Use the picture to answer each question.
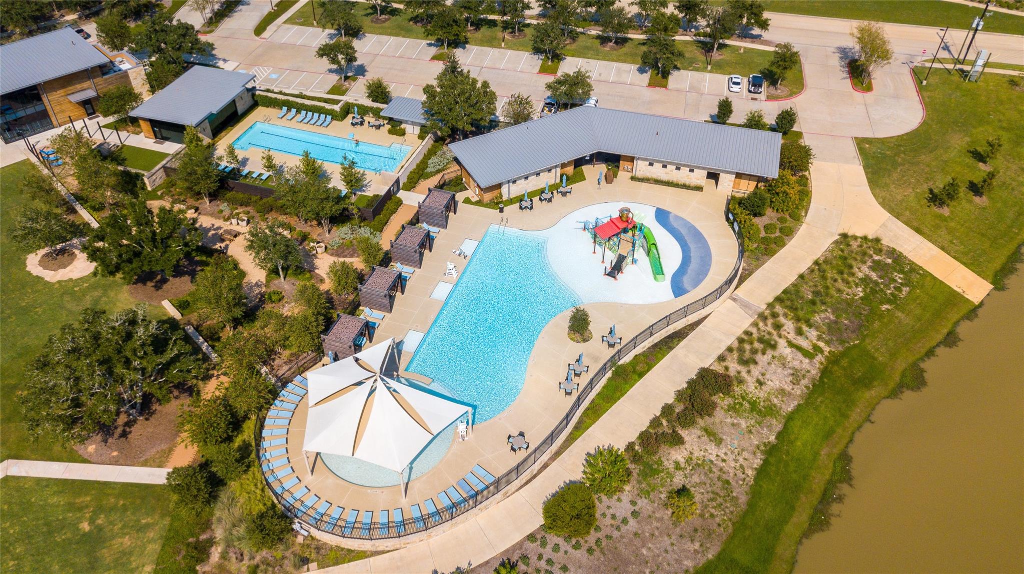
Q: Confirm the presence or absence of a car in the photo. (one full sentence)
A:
Yes, there's a car here.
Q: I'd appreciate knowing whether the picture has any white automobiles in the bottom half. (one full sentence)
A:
No, no white automobile is visible in the bottom half.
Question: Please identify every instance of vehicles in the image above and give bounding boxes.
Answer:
[728,75,744,93]
[585,93,602,106]
[748,75,764,93]
[538,95,559,117]
[66,18,89,36]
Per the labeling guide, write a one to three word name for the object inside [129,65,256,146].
building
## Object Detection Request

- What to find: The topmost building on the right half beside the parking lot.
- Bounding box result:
[448,104,782,202]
